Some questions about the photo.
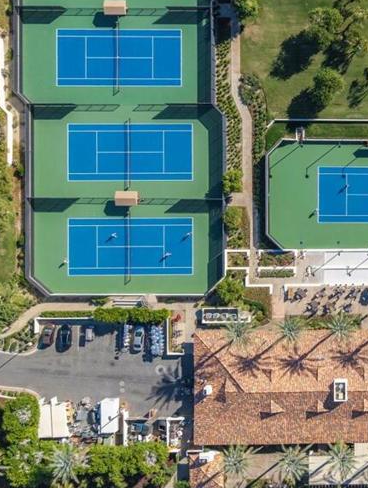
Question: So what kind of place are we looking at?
sports ground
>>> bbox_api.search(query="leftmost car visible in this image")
[38,324,52,347]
